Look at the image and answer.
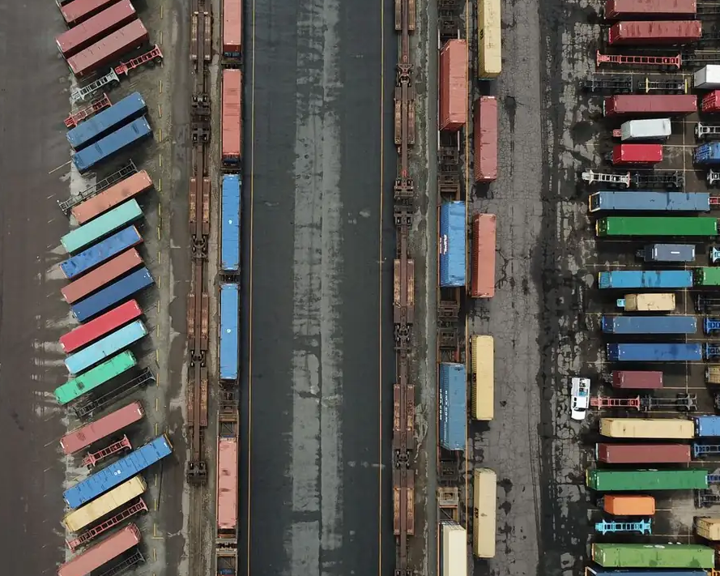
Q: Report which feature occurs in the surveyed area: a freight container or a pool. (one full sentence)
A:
The image shows a freight container.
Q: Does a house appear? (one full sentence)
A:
No, the picture doesn't show any house.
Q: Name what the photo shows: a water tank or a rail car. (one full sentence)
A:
Of the two, only a rail car appears.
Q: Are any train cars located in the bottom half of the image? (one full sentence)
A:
Yes, a train car is visible in the bottom half of the image.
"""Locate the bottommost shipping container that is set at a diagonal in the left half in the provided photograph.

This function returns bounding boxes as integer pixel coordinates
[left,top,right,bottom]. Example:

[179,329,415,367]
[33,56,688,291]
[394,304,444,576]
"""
[58,521,140,576]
